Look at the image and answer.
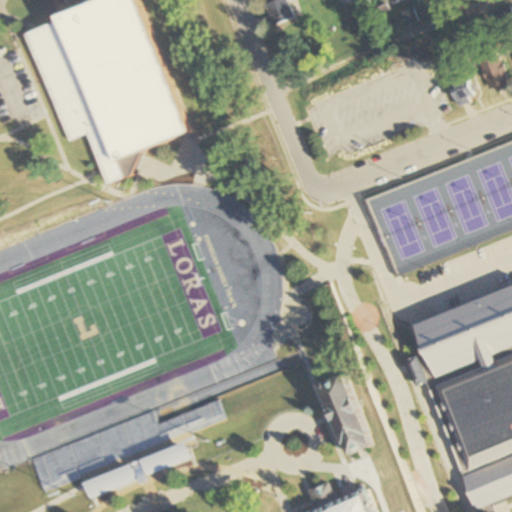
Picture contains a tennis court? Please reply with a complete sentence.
Yes, there is a tennis court in the image.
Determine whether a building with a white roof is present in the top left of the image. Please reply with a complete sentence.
Yes, there is a building with a white roof in the top left of the image.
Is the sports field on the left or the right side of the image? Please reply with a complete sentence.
The sports field sits on the left side.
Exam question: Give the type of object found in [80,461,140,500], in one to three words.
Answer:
building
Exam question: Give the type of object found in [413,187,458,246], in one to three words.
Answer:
tennis court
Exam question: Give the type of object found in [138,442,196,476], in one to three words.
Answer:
building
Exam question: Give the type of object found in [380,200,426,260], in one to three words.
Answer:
tennis court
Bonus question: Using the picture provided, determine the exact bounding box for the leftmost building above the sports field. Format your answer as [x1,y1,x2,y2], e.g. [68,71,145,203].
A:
[24,0,188,184]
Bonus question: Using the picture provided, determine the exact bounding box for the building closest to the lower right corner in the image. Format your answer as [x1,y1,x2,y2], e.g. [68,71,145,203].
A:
[458,450,512,501]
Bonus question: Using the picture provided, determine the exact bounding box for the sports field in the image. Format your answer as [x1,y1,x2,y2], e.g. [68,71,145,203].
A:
[0,206,236,442]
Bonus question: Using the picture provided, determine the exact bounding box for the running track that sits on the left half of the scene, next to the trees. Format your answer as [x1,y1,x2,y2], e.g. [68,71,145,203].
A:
[0,184,282,470]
